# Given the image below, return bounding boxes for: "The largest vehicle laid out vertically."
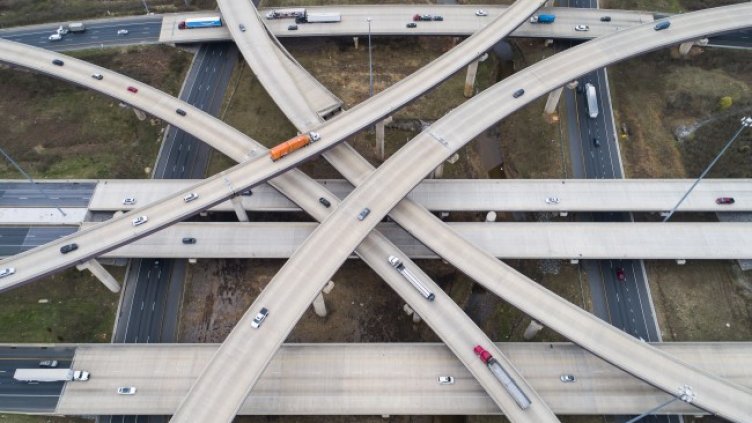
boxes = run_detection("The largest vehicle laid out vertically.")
[585,82,601,123]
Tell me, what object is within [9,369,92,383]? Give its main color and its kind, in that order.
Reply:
white vehicle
